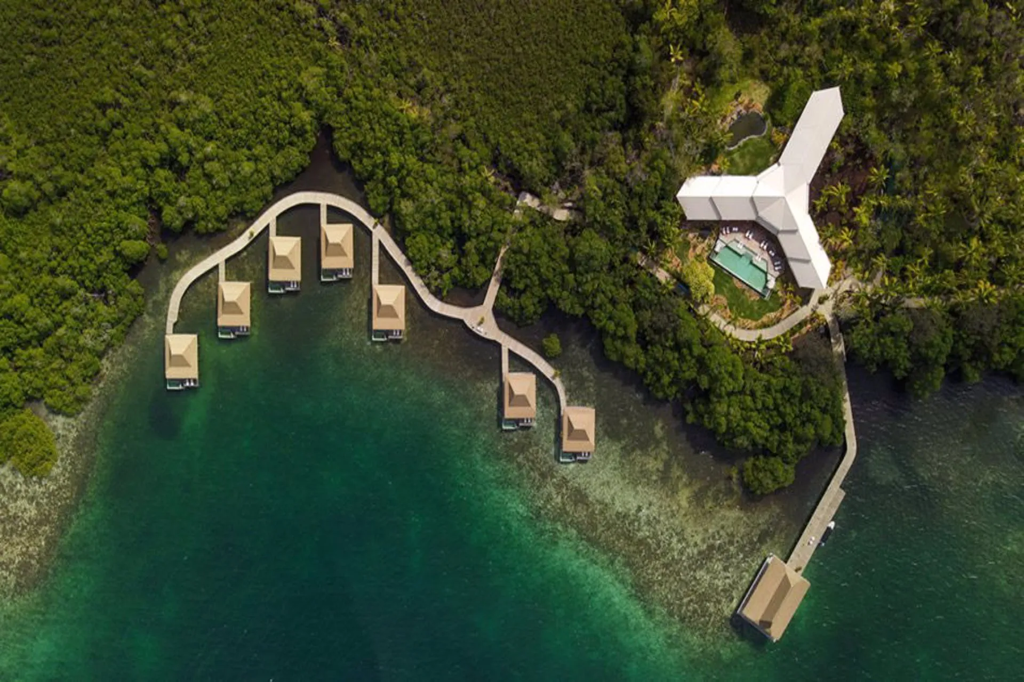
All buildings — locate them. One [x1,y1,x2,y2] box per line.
[560,407,595,459]
[738,552,811,640]
[321,224,353,278]
[218,282,251,335]
[165,335,199,387]
[373,285,405,338]
[269,237,301,291]
[502,373,536,425]
[676,86,844,289]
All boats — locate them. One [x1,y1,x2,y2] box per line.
[819,524,834,545]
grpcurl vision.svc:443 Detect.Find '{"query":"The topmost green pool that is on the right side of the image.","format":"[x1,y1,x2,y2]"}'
[709,240,768,298]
